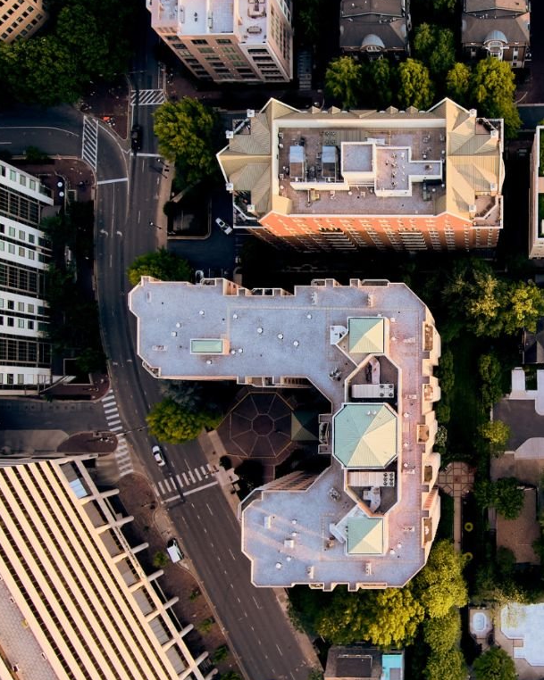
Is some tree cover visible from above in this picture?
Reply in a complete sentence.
Yes, there's tree cover in this view.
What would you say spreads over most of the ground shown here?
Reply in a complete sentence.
The scene is dominated by buildings.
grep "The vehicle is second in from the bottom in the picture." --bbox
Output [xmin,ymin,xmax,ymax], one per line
[150,446,164,467]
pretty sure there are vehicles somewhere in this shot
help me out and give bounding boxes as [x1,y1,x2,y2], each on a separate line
[150,446,164,467]
[162,538,182,566]
[214,216,232,235]
[128,122,140,146]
